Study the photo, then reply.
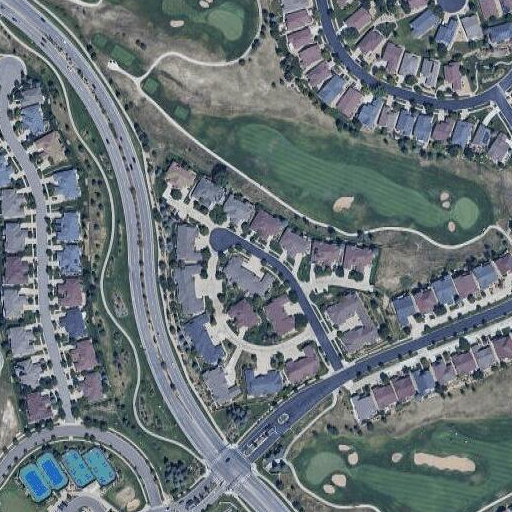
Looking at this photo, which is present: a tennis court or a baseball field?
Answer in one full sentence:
Looking from above, you can make out a tennis court.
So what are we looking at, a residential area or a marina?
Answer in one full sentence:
What you see here is a residential area.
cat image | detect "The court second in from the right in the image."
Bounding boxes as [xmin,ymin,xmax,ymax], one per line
[60,448,95,487]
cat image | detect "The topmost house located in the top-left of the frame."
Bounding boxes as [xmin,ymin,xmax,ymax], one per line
[21,86,42,105]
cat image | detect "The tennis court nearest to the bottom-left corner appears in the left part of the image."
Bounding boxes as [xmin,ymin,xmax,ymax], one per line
[19,464,51,502]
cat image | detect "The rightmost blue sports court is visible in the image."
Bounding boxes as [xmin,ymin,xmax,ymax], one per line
[82,447,116,485]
